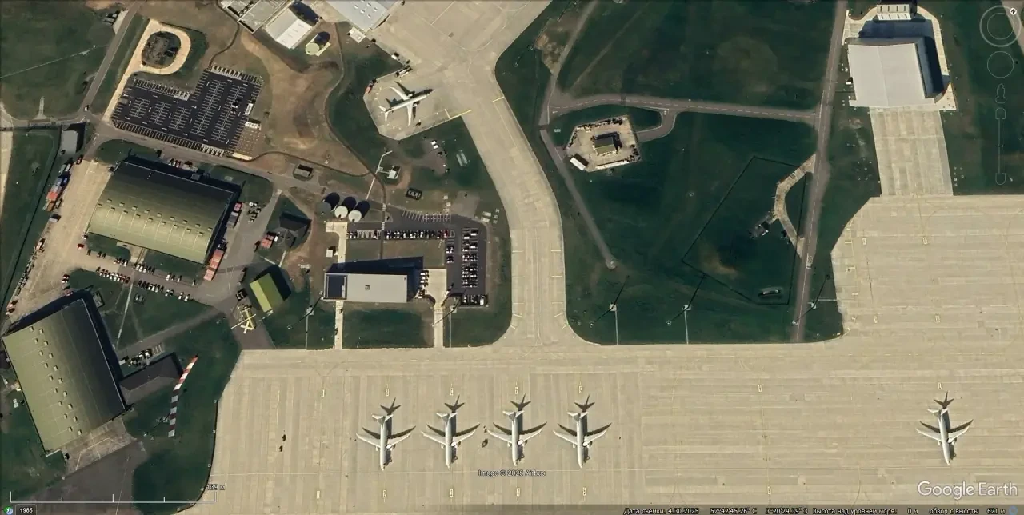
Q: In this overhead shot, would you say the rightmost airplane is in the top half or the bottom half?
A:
bottom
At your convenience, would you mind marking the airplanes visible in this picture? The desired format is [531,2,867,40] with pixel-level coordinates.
[355,413,412,470]
[375,86,431,126]
[420,411,477,468]
[551,410,608,467]
[916,406,972,464]
[487,409,543,466]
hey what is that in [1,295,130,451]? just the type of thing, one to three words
hangar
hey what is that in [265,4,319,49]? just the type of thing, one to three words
hangar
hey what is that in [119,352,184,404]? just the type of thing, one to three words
building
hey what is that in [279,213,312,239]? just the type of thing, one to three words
shed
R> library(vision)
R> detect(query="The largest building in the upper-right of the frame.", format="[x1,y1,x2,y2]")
[848,37,940,106]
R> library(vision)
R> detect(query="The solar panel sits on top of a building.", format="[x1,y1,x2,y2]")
[326,277,345,298]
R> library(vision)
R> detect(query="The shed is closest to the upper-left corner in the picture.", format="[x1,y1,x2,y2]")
[60,128,82,154]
